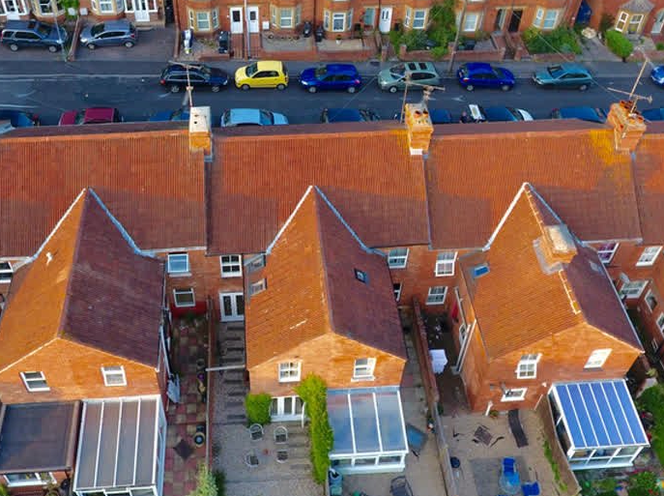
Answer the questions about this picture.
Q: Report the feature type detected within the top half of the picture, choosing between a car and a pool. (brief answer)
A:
car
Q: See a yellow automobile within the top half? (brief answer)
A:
Yes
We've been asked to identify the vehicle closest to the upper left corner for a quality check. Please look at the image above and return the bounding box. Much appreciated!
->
[0,17,67,49]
